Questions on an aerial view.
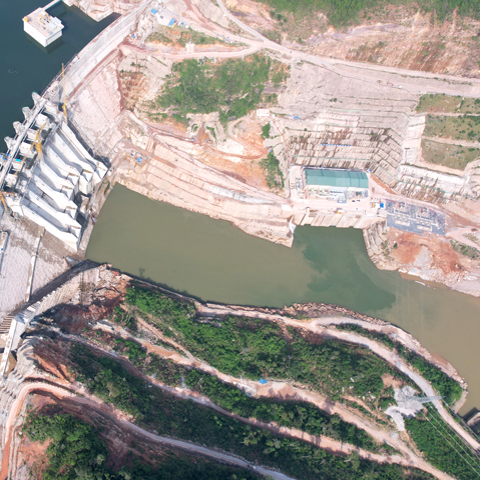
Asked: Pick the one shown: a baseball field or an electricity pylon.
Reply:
electricity pylon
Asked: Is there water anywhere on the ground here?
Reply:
Yes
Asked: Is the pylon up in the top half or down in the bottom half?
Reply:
bottom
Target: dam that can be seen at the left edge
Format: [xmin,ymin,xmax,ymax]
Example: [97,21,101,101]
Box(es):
[0,0,157,376]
